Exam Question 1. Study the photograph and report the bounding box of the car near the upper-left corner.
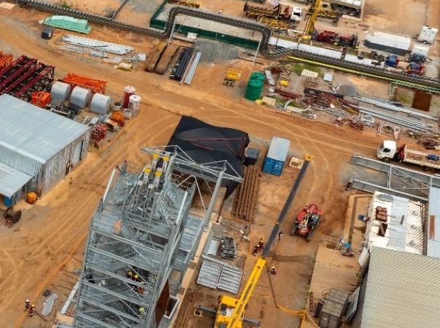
[40,25,53,40]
